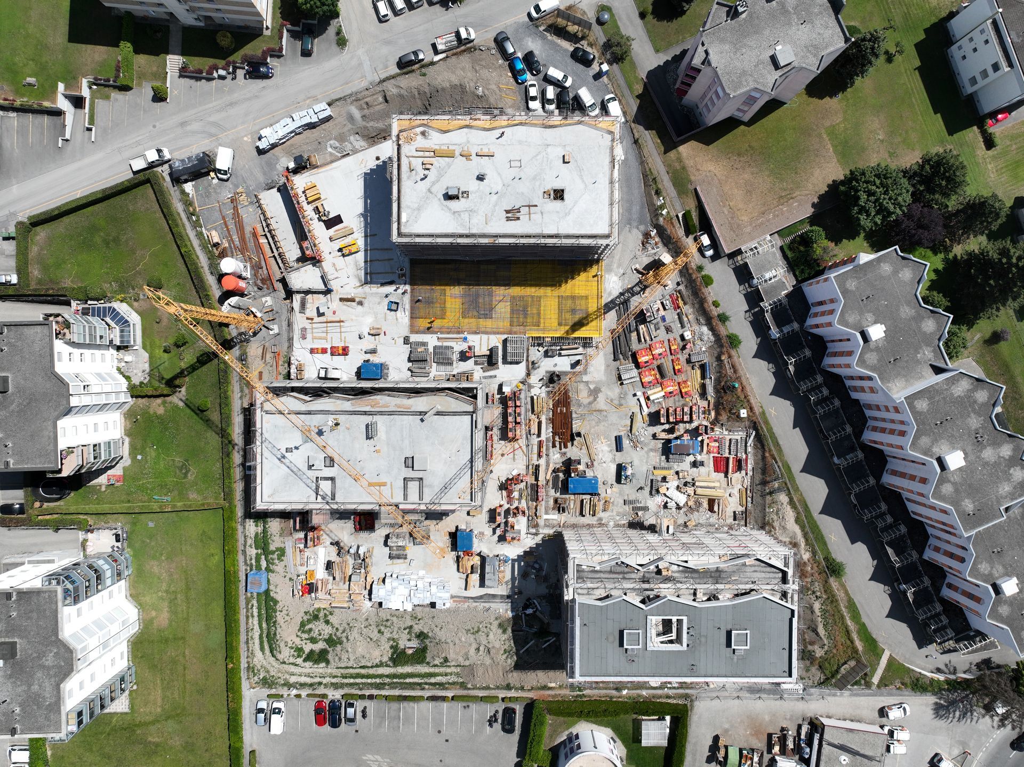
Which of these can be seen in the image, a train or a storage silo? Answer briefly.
storage silo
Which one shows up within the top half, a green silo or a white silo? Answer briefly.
white silo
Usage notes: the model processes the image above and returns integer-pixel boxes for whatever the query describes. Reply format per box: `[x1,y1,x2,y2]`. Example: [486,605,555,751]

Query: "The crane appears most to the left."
[140,285,451,562]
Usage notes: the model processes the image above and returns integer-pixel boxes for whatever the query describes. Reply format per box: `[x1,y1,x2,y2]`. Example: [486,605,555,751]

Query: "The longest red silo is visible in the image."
[222,274,262,295]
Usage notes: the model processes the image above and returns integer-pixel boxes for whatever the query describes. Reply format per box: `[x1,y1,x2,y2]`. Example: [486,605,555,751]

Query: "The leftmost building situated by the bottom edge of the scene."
[0,550,140,743]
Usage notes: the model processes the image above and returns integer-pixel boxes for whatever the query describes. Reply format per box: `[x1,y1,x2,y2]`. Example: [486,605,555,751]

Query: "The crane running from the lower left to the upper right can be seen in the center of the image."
[456,231,715,503]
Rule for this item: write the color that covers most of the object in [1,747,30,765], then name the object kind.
white car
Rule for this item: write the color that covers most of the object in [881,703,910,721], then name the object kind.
white vehicle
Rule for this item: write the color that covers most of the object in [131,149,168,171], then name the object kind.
white truck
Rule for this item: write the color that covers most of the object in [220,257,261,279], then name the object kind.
white silo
